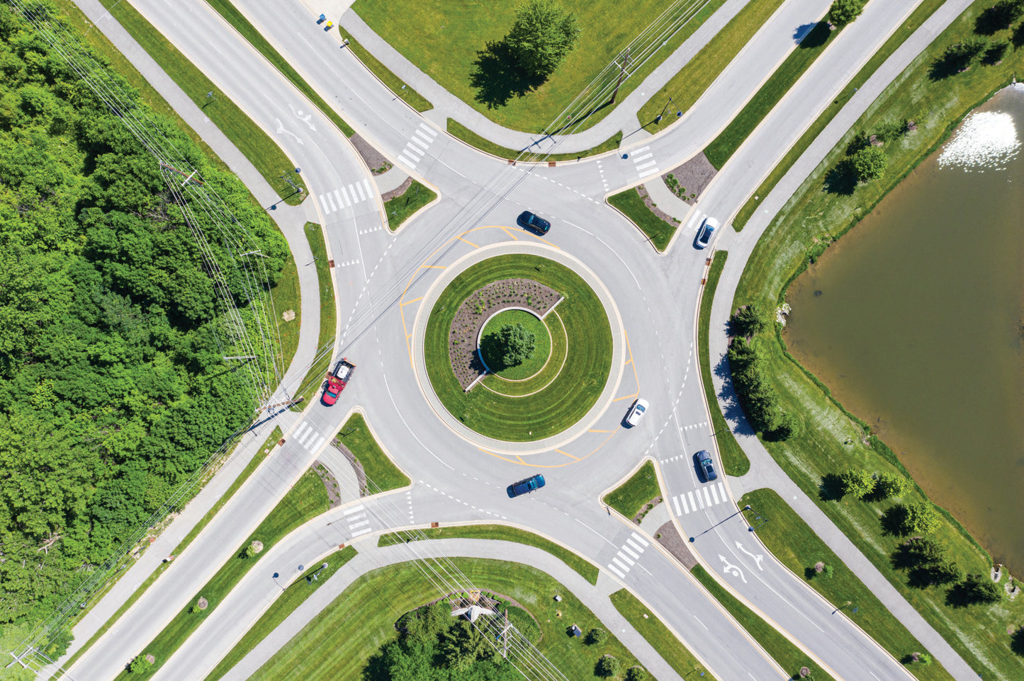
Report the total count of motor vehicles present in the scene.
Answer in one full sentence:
The number of motor vehicles here is 6.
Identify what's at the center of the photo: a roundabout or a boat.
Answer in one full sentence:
The one visible at the center of the photo is a roundabout.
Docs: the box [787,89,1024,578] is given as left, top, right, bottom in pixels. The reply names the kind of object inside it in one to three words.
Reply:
pond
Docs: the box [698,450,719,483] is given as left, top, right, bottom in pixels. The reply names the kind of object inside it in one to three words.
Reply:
car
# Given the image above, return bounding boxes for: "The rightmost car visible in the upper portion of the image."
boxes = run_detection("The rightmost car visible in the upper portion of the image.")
[697,216,719,248]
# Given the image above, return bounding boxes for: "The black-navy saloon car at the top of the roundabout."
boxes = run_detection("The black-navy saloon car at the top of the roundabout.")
[521,211,552,232]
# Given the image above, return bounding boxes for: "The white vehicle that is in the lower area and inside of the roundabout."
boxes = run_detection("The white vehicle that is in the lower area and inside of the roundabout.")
[627,398,650,427]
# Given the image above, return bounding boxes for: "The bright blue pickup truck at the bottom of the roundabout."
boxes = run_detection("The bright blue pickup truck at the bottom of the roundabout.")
[511,476,547,497]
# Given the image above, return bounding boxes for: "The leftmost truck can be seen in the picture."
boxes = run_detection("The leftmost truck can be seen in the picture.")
[322,360,354,405]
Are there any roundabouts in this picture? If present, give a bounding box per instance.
[366,195,672,501]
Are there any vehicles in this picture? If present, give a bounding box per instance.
[697,216,719,248]
[322,360,354,405]
[627,398,650,427]
[698,450,719,483]
[511,476,547,497]
[521,211,552,232]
